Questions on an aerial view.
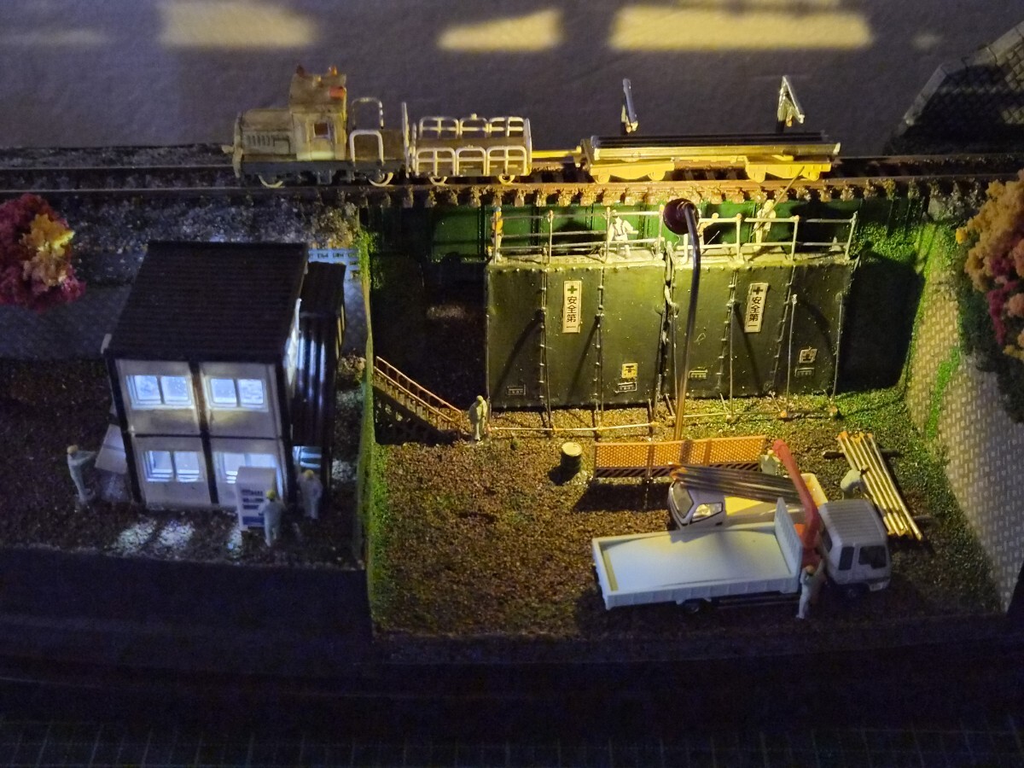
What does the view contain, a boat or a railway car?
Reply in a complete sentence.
It is a railway car that can be seen here.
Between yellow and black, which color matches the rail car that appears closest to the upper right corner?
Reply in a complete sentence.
In this view, the rail car that appears closest to the upper right corner is yellow.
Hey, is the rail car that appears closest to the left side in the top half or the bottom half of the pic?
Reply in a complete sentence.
It is in the top half that the rail car that appears closest to the left side appears.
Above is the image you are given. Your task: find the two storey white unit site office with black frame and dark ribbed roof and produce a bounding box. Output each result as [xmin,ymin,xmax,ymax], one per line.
[89,242,312,513]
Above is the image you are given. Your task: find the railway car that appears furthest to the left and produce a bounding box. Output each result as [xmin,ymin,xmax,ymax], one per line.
[225,66,403,188]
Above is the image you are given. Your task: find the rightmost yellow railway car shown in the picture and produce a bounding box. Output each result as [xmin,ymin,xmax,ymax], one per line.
[528,67,829,182]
